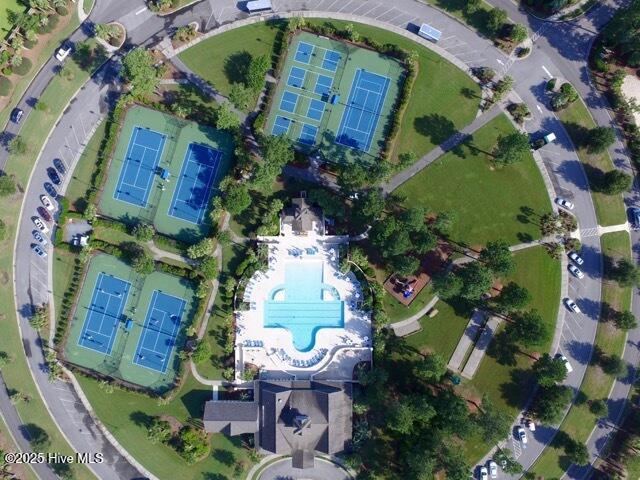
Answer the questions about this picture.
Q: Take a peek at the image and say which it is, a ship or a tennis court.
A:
tennis court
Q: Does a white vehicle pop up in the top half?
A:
Yes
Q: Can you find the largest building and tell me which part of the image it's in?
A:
bottom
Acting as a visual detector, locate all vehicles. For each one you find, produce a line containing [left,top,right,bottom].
[632,209,640,224]
[39,207,51,222]
[569,264,584,279]
[489,461,497,477]
[518,428,527,444]
[536,133,554,146]
[479,466,488,480]
[55,159,66,174]
[56,46,72,62]
[418,23,440,43]
[247,0,272,12]
[569,252,584,266]
[42,196,54,211]
[44,182,58,198]
[36,218,49,232]
[14,107,25,122]
[557,198,572,209]
[558,354,571,369]
[566,299,579,313]
[527,418,536,433]
[49,168,61,184]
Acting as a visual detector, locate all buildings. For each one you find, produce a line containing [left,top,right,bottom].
[284,193,321,232]
[254,377,352,471]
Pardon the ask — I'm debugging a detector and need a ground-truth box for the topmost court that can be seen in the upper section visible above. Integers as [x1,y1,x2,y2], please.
[286,31,351,78]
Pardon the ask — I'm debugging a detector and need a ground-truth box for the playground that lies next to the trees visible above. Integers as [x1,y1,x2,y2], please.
[384,269,431,307]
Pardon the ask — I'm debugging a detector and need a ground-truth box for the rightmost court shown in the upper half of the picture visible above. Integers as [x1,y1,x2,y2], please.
[321,45,406,162]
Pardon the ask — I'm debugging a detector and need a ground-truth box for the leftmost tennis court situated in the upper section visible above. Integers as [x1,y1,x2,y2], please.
[98,104,176,226]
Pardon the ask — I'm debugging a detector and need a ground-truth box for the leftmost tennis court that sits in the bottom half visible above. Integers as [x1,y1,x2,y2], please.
[62,251,142,375]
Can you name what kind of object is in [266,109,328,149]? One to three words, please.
sports court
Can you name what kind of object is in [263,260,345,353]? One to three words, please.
swimming pool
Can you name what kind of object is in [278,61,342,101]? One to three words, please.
sports court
